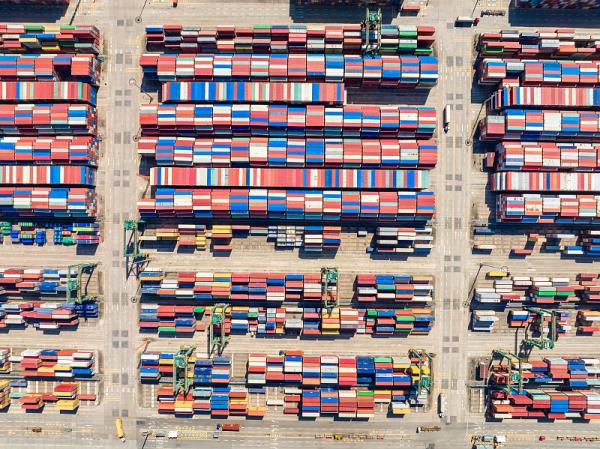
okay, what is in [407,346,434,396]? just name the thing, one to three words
container crane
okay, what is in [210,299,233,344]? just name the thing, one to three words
container crane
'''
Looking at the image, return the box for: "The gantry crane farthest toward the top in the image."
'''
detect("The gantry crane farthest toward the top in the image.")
[362,7,382,60]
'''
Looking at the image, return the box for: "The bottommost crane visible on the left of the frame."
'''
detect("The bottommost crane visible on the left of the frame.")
[172,344,199,394]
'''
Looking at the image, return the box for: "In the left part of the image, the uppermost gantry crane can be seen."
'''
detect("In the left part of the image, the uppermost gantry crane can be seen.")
[122,218,153,259]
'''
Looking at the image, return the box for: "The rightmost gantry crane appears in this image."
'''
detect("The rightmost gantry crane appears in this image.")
[520,303,557,349]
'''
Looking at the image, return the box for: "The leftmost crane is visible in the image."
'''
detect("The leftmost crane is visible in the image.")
[65,261,101,304]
